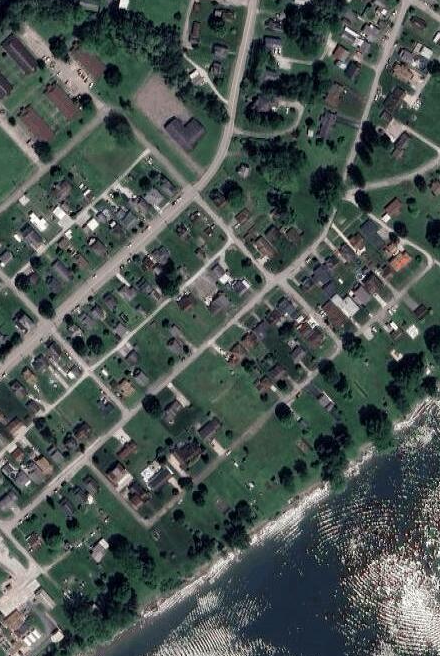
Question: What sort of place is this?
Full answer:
What you see here is a residential area.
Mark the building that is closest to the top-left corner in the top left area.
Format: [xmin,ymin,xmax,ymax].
[3,32,37,73]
